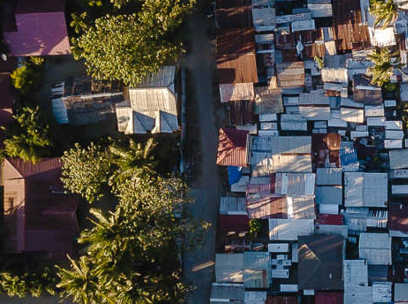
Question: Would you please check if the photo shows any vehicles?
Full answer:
No, I find no vehicle anywhere in the image.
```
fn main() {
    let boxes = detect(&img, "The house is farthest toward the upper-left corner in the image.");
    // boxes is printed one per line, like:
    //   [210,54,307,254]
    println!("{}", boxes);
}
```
[5,0,80,59]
